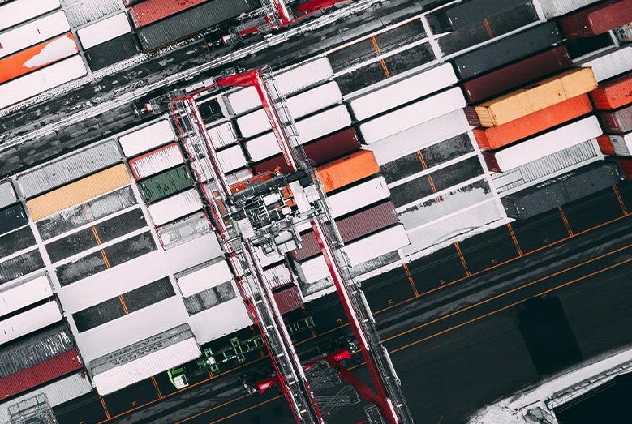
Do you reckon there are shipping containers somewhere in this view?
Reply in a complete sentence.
Yes, a shipping container can be made out from above.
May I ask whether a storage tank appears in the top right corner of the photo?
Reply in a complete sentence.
No, the scene shows no storage tank in the top right corner of the photo.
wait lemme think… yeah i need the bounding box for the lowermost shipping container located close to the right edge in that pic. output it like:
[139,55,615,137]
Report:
[502,160,621,220]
